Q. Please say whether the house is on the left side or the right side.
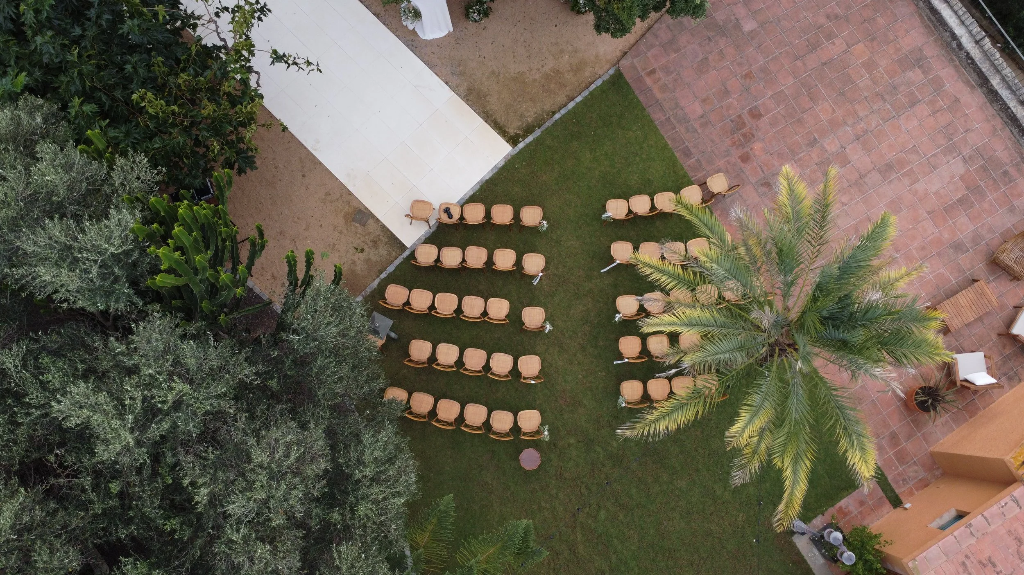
right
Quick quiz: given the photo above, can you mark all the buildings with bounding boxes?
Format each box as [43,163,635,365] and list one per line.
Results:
[848,387,1024,575]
